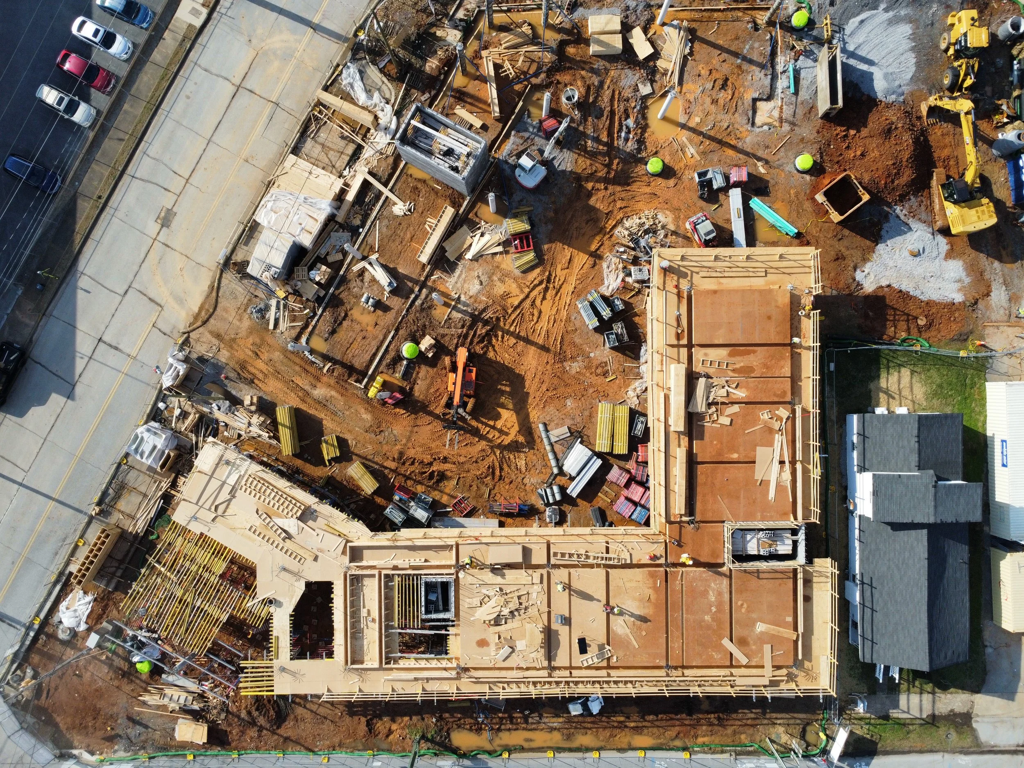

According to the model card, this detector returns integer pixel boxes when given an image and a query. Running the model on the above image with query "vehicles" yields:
[918,96,996,238]
[70,14,135,63]
[93,0,156,37]
[0,148,67,197]
[31,80,100,130]
[934,10,994,105]
[441,348,486,450]
[54,47,119,96]
[684,213,720,247]
[515,114,572,191]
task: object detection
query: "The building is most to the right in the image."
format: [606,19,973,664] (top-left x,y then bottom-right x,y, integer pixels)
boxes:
[839,402,982,672]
